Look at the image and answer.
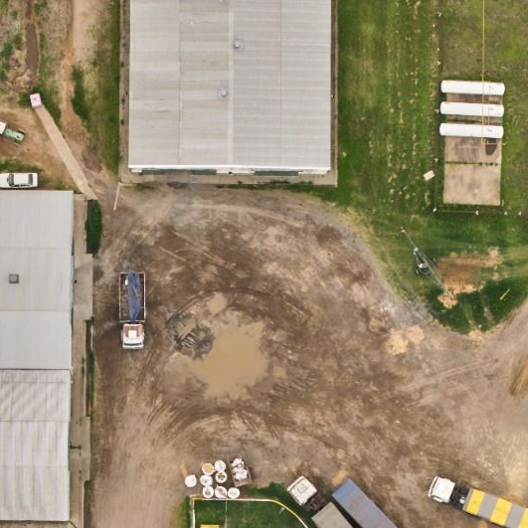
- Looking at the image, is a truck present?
Yes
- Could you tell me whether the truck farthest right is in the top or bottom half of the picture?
bottom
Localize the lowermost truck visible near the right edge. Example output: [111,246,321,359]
[429,474,528,528]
